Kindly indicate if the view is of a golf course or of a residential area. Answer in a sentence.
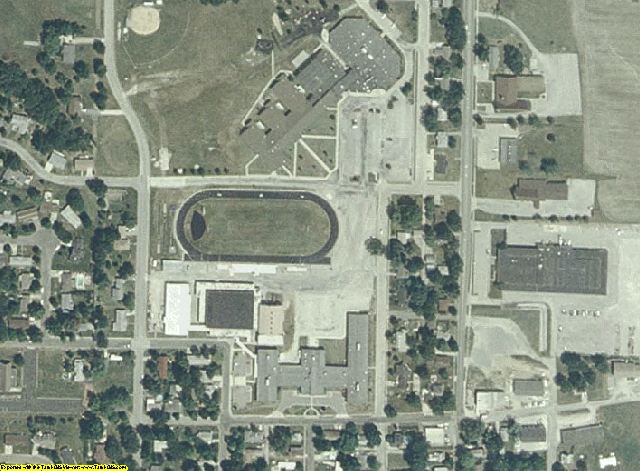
The area seen from above is a residential area.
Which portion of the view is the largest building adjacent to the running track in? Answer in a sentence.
Look in the top portion of the view to spot the largest building adjacent to the running track.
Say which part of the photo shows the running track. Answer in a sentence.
Look in the center portion of the view to spot the running track.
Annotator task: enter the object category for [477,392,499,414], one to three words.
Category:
building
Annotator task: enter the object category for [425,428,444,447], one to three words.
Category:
building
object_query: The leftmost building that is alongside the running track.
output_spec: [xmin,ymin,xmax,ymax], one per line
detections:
[165,283,190,335]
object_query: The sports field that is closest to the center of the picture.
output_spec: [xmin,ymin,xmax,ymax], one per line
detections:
[186,200,329,254]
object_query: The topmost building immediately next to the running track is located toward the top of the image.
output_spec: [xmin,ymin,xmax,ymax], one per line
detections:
[236,18,401,168]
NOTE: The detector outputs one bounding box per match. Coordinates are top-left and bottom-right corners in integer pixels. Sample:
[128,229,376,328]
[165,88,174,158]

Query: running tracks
[176,190,339,264]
